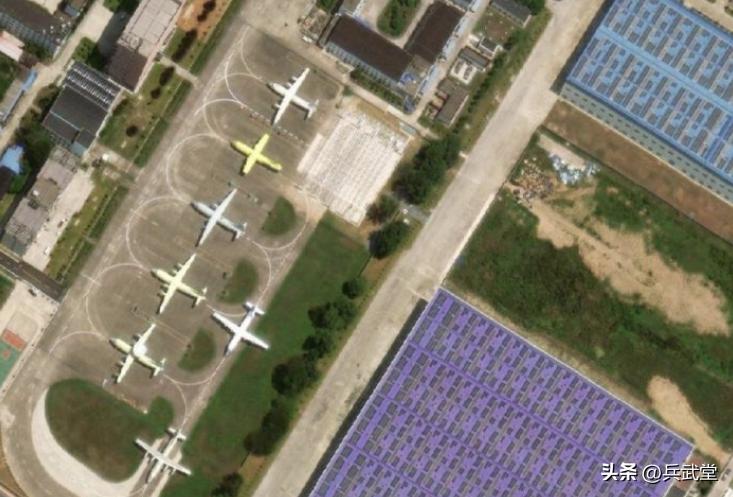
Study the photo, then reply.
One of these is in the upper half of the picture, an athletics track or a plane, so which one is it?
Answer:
plane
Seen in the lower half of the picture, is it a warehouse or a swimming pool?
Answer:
warehouse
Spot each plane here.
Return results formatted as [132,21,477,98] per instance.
[212,302,269,355]
[152,252,208,312]
[268,66,321,124]
[233,132,282,173]
[110,323,166,382]
[137,428,190,483]
[191,187,248,246]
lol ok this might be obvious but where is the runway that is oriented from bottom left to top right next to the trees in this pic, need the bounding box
[253,0,616,497]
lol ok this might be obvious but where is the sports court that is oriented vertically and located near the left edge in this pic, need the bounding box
[0,329,27,389]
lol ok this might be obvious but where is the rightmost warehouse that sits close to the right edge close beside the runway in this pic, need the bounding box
[560,0,733,204]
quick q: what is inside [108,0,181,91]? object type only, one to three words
building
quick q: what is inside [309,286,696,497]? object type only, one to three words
warehouse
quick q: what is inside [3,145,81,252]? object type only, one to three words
building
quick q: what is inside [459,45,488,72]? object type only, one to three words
shed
